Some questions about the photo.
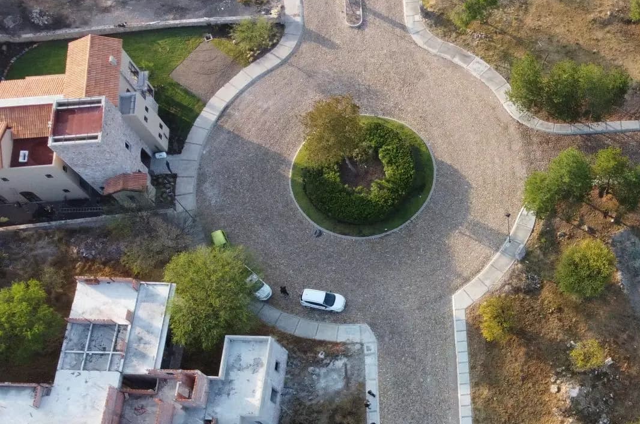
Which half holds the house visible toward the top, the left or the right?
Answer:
left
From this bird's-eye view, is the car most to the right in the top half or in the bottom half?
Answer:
bottom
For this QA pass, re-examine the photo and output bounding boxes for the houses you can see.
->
[0,33,169,207]
[0,278,286,424]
